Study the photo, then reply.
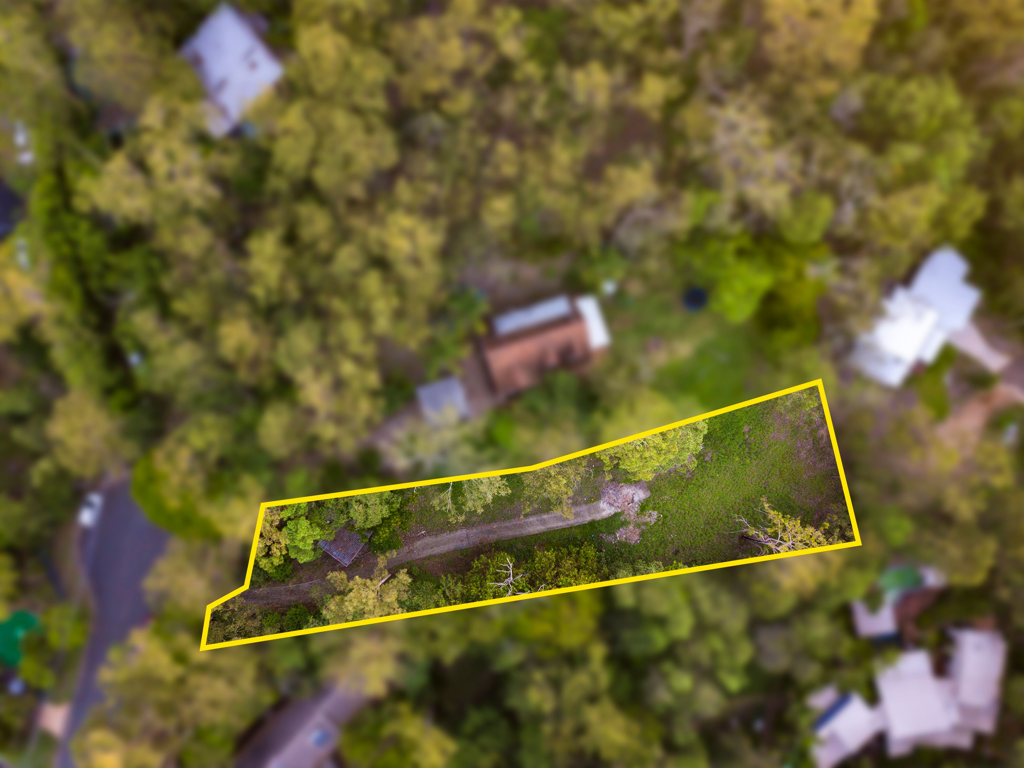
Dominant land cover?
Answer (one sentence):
The largest share of the image is taken up by trees.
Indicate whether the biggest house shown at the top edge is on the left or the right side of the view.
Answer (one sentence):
The biggest house shown at the top edge appears in the left half of the scene.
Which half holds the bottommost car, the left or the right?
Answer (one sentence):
The bottommost car appears in the left half of the scene.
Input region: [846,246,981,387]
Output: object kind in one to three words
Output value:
house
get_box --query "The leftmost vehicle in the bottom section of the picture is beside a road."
[74,494,99,529]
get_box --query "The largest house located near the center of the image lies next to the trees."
[485,293,611,397]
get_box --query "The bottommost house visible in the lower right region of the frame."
[809,630,1007,768]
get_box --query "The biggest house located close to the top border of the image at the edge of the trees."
[182,2,287,142]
